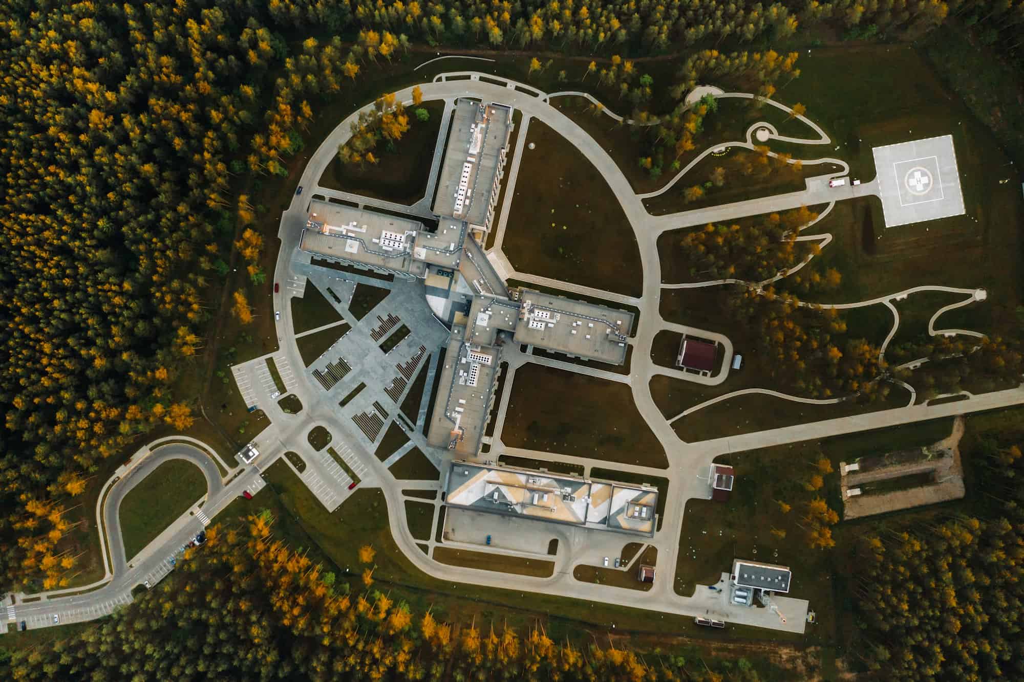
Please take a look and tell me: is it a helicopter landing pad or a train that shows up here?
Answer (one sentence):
The one in the frame is a helicopter landing pad.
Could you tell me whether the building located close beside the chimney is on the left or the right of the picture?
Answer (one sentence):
The building located close beside the chimney is on the right side of the image.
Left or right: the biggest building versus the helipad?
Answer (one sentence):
Looking at the photo, the biggest building lies to the left of the helipad.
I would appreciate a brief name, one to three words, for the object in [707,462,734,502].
shed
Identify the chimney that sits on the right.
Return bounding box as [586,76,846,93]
[761,593,787,624]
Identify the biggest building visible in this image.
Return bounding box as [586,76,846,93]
[299,97,635,457]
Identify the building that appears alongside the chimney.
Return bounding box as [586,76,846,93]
[728,557,791,593]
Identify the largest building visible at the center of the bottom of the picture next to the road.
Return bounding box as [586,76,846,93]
[445,458,658,537]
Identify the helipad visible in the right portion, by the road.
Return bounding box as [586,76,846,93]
[873,134,965,227]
